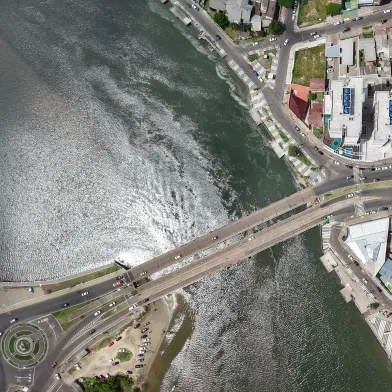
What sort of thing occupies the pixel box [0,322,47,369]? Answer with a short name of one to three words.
roundabout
